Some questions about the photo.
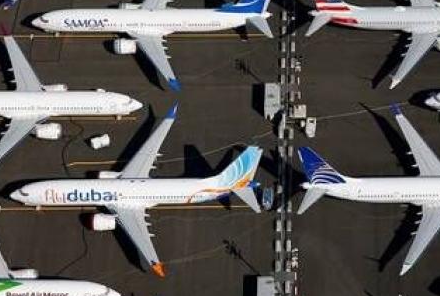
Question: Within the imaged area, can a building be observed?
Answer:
No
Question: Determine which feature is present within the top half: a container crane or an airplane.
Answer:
airplane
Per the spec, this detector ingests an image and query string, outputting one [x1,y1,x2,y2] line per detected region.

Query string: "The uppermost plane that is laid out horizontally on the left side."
[30,0,273,88]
